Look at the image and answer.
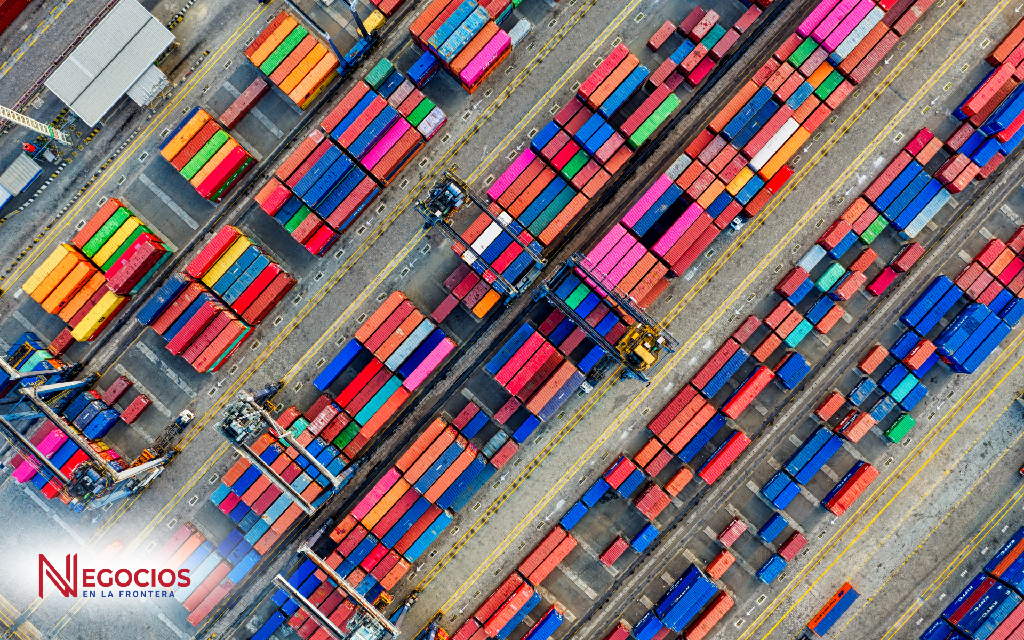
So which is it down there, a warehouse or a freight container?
freight container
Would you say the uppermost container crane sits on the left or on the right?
left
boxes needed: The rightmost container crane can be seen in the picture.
[528,248,678,384]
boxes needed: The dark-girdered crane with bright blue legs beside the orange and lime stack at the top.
[253,0,388,89]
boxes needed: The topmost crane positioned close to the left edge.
[0,338,93,404]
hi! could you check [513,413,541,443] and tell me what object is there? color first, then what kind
blue shipping container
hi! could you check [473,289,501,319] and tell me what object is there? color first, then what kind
orange shipping container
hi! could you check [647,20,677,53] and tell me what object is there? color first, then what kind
red shipping container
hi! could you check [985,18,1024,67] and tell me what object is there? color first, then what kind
red shipping container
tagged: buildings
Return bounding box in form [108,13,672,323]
[0,152,50,197]
[43,149,63,164]
[43,0,184,131]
